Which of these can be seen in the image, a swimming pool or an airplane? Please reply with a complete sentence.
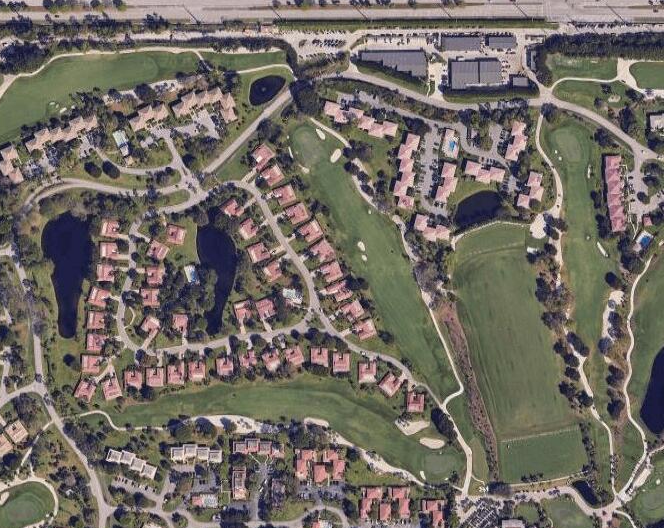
This aerial view contains a swimming pool.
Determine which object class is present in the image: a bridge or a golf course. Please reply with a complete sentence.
Looking from above, you can make out a golf course.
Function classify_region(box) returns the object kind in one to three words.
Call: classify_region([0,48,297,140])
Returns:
golf course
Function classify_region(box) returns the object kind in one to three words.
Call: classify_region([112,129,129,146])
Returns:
swimming pool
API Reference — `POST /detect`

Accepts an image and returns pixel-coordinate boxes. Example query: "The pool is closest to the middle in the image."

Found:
[282,290,302,305]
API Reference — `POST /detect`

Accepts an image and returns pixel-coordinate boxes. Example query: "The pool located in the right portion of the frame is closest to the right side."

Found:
[636,229,656,253]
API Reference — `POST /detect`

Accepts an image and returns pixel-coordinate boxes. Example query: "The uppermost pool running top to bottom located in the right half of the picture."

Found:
[444,130,460,158]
